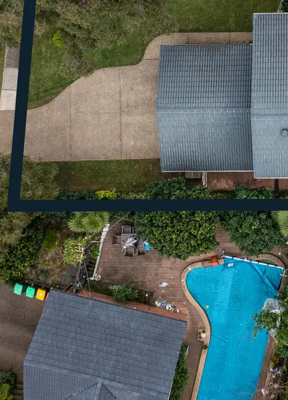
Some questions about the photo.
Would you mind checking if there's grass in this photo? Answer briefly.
Yes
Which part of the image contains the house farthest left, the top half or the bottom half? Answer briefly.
bottom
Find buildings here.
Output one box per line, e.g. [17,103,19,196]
[22,283,189,400]
[156,13,288,178]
